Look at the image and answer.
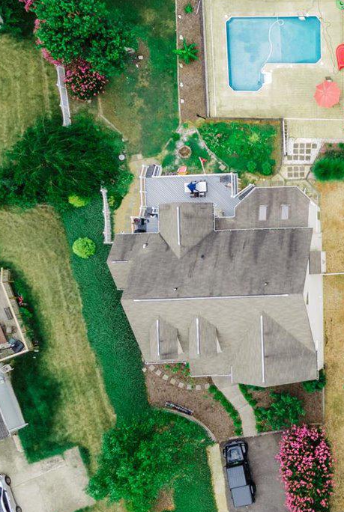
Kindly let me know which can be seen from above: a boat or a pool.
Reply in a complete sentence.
The image shows a pool.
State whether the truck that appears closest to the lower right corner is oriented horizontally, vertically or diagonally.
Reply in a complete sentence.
What the image shows is the truck that appears closest to the lower right corner lying vertically.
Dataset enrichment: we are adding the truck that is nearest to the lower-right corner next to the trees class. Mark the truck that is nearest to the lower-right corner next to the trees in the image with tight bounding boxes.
[223,437,259,507]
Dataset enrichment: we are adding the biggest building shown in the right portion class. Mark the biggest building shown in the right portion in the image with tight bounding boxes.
[108,186,329,387]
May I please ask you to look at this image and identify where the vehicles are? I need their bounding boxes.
[223,437,259,507]
[0,470,23,512]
